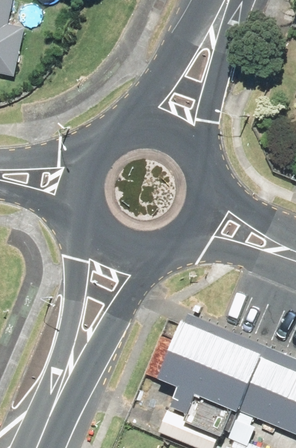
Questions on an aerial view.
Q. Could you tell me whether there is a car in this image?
Yes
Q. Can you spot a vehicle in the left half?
No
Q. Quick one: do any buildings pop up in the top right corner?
No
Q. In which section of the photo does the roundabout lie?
center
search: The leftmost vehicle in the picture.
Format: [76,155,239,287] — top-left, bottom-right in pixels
[225,292,248,324]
